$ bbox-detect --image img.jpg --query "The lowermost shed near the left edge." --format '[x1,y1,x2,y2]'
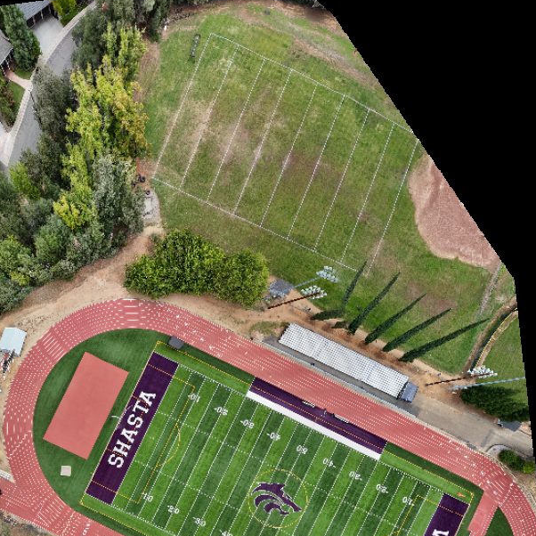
[0,328,27,357]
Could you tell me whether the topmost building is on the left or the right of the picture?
left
